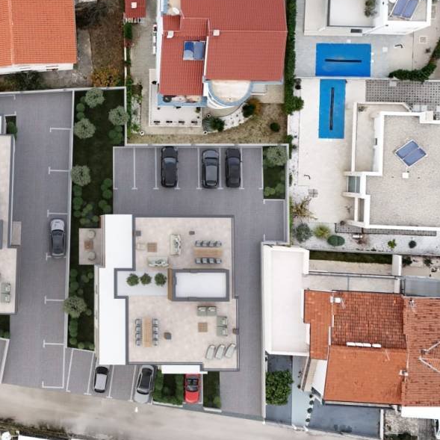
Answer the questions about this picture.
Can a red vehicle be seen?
Yes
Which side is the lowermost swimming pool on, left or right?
right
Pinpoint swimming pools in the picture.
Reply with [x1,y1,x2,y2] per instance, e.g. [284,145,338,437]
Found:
[312,40,373,78]
[315,76,348,141]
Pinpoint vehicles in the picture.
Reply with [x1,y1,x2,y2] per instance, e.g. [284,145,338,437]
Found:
[201,148,221,188]
[224,148,243,188]
[133,364,154,404]
[433,418,440,440]
[183,373,202,405]
[48,217,67,258]
[161,147,181,188]
[93,365,111,394]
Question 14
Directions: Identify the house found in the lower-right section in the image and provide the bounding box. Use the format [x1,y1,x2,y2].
[260,246,440,418]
